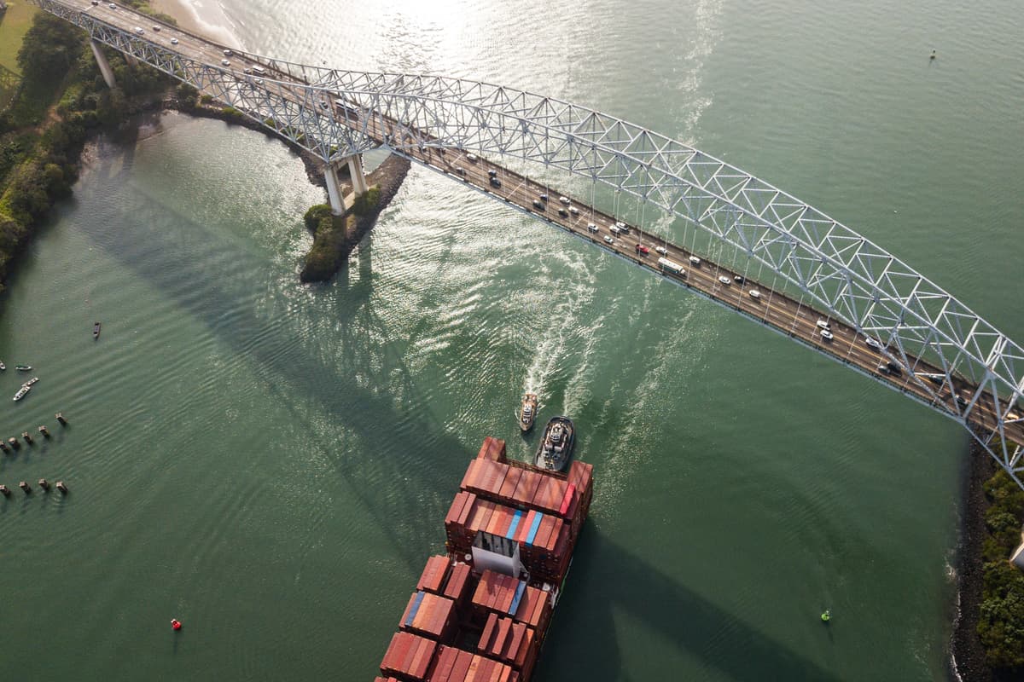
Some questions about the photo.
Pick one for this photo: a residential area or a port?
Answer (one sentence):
What you see here is a port.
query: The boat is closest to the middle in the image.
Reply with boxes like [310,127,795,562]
[519,390,539,431]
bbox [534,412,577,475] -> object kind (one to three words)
boat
